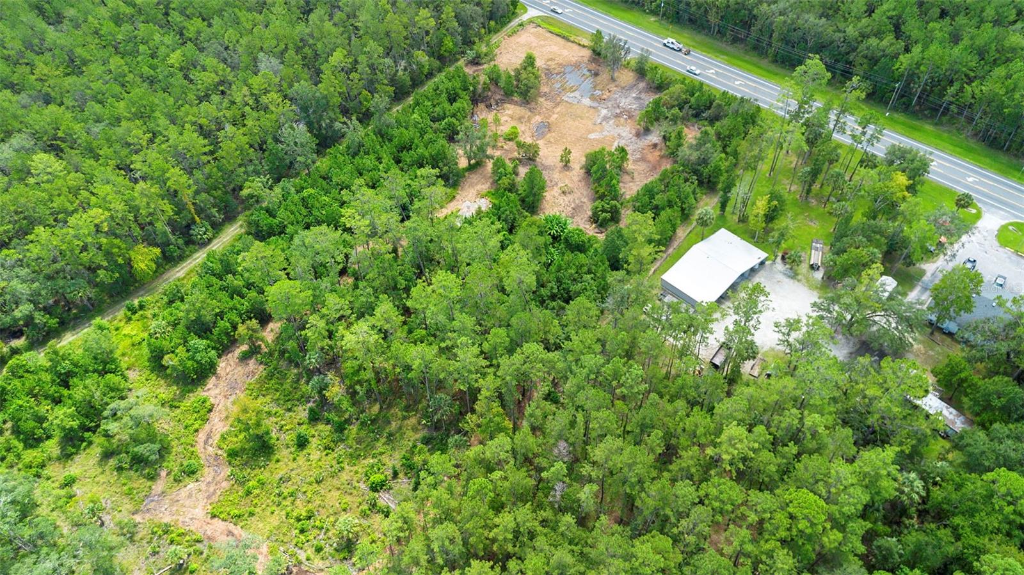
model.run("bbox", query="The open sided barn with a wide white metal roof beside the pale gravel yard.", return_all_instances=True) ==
[661,229,768,314]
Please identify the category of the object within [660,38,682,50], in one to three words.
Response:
vehicle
